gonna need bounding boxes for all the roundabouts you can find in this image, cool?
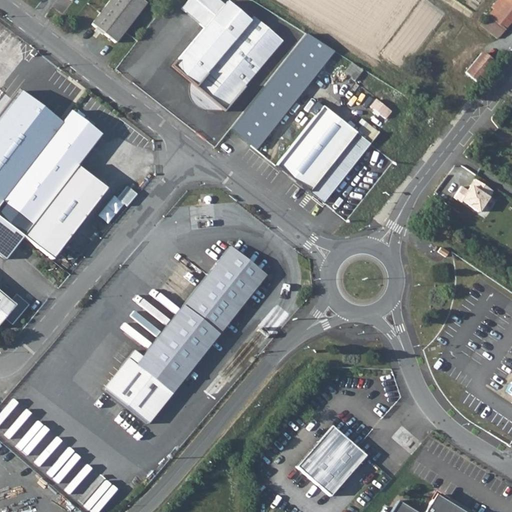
[320,236,406,322]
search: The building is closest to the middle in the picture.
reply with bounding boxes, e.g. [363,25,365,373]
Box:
[184,246,267,333]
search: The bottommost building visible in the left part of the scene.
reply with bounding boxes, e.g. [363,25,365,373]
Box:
[104,358,174,422]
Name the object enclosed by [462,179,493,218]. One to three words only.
house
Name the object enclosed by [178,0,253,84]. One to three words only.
building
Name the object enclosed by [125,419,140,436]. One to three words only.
vehicle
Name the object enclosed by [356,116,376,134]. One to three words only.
vehicle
